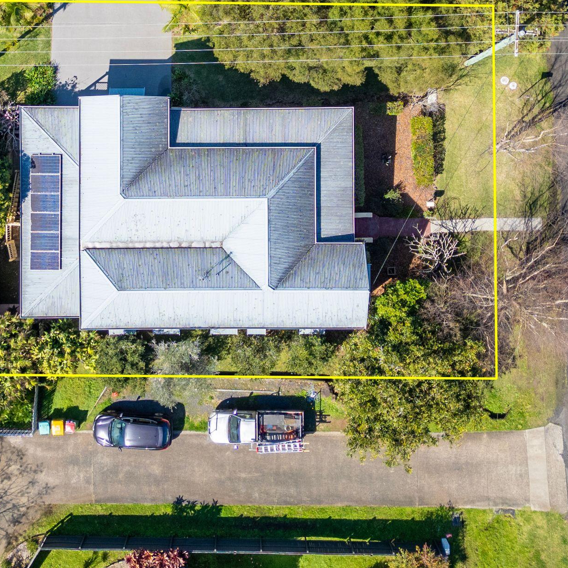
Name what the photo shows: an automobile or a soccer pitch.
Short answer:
automobile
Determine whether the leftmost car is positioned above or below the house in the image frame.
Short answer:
below it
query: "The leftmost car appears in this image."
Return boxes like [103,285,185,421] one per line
[93,414,173,456]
